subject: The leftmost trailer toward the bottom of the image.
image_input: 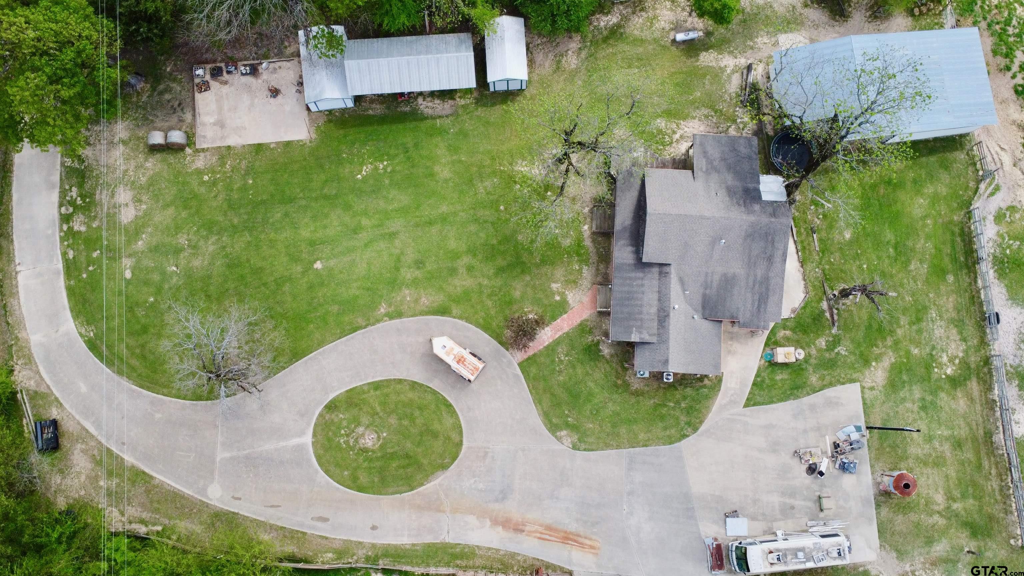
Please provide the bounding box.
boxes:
[428,334,488,381]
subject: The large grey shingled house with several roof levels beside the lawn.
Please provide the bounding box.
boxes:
[591,133,792,376]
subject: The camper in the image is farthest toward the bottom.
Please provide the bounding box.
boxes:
[727,527,848,575]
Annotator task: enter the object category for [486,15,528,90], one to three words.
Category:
shed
